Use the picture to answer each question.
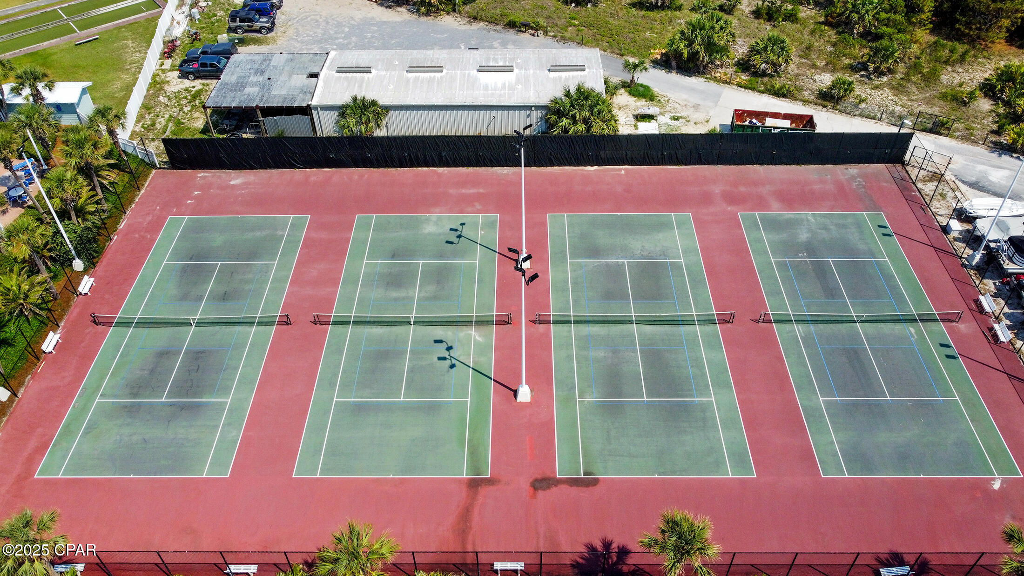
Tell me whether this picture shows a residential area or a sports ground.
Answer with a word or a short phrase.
sports ground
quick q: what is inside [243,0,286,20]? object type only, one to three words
car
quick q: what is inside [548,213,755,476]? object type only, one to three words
tennis court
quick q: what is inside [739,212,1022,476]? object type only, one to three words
tennis court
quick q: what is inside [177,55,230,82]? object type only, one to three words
truck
